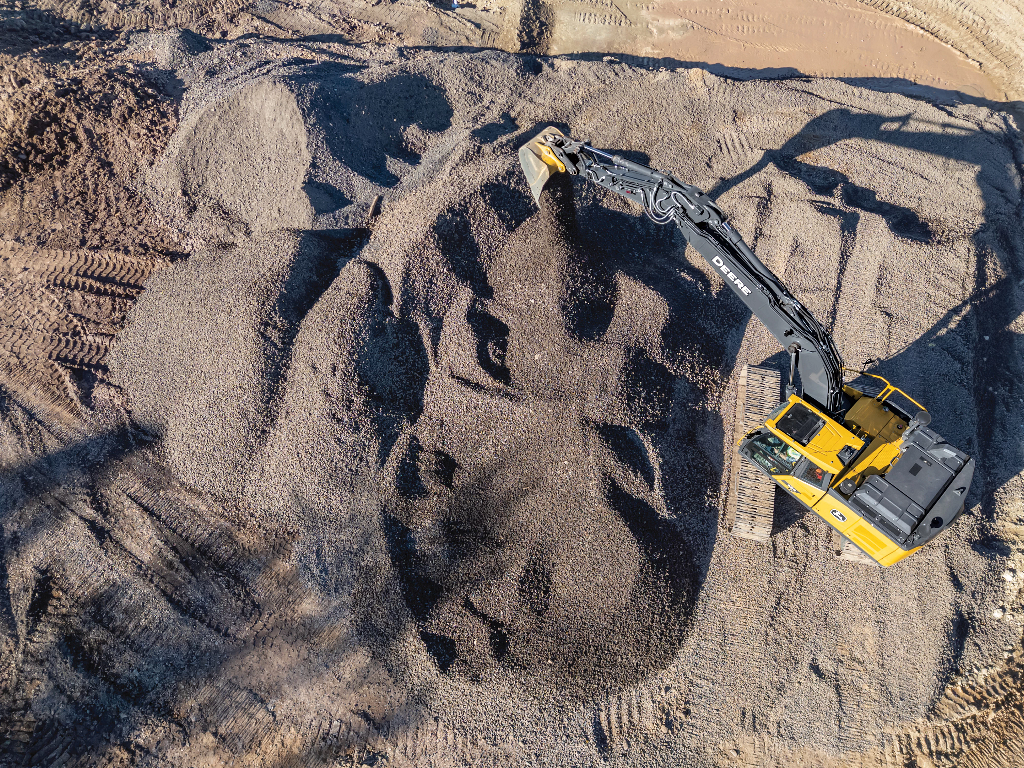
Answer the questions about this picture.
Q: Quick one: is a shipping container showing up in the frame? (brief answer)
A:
No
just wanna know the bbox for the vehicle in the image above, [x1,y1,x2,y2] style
[518,119,972,570]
